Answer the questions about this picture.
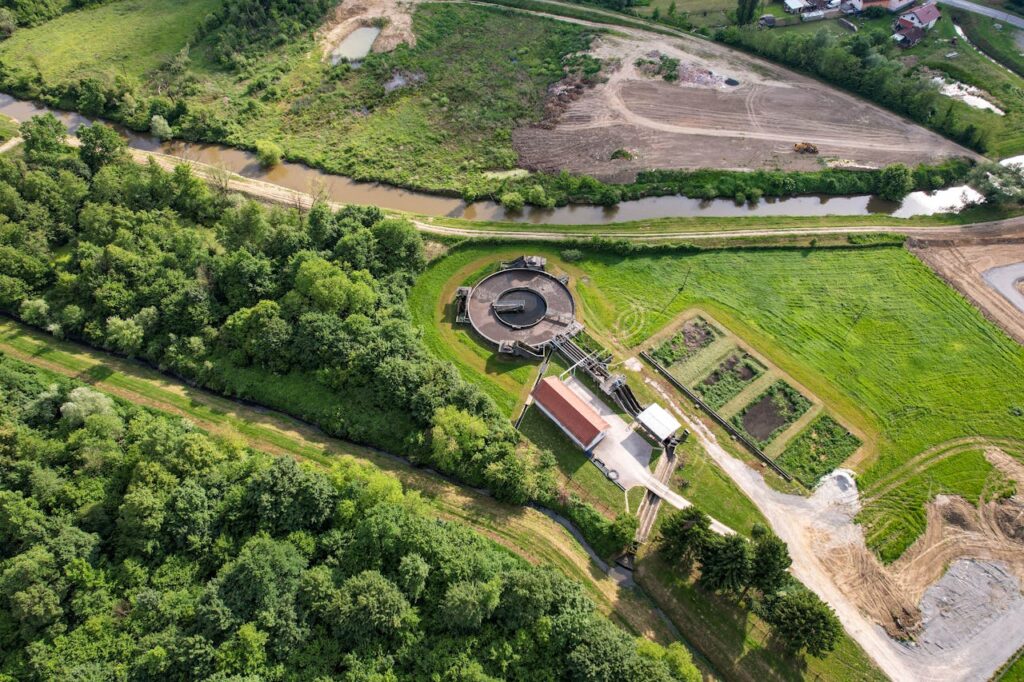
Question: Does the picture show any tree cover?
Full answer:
Yes, some tree cover is visible.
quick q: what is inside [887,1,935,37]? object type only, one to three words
house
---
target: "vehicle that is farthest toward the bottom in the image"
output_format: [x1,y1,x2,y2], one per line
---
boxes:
[792,141,819,153]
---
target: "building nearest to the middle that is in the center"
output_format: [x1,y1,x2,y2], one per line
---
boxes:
[530,375,612,452]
